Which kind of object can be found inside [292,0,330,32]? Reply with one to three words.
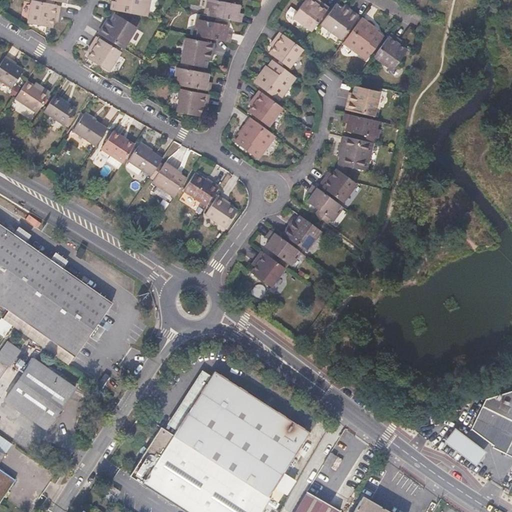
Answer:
house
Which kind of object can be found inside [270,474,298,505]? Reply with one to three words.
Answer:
shed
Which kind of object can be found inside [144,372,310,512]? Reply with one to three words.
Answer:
warehouse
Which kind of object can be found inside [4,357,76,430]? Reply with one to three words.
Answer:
building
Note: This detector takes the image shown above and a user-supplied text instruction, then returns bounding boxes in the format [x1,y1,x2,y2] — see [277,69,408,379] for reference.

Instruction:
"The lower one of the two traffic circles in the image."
[162,270,226,334]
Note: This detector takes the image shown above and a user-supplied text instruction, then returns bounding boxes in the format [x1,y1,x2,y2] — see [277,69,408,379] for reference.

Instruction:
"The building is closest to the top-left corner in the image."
[26,1,60,28]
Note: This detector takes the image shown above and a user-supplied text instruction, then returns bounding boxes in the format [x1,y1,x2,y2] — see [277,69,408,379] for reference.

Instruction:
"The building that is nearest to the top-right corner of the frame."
[374,34,408,72]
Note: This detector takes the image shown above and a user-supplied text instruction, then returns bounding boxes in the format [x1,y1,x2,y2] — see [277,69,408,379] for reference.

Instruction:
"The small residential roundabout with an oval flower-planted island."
[248,170,292,216]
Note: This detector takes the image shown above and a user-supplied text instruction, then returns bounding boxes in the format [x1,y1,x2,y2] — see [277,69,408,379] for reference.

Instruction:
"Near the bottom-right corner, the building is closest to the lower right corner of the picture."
[471,394,512,457]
